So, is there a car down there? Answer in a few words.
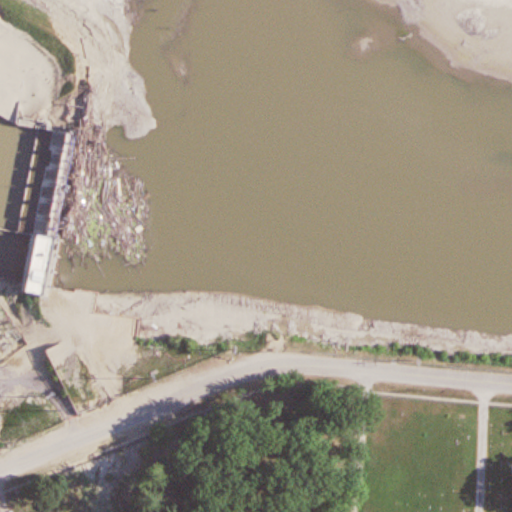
No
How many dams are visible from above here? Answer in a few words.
1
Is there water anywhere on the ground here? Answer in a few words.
Yes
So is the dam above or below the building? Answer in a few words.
above it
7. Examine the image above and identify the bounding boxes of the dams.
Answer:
[20,128,79,243]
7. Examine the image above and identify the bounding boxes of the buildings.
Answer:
[25,234,52,299]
